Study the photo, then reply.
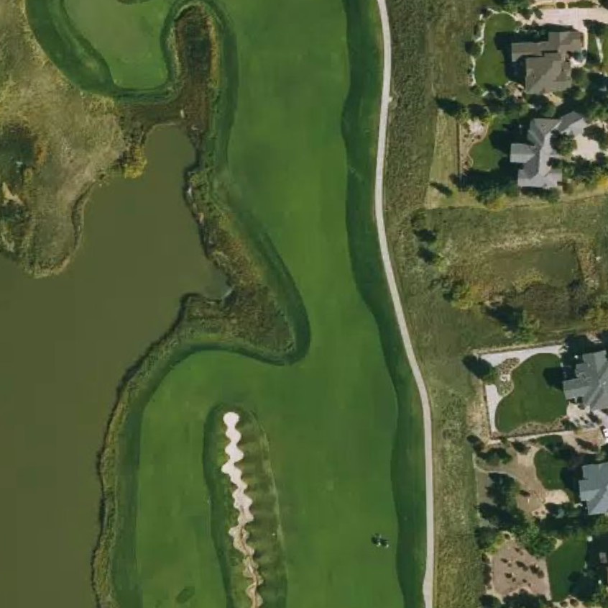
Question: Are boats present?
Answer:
No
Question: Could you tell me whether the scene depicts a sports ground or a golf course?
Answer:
golf course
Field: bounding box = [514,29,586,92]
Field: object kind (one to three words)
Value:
house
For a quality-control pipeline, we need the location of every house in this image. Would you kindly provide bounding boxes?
[512,107,591,185]
[581,452,608,517]
[514,29,586,92]
[565,352,608,412]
